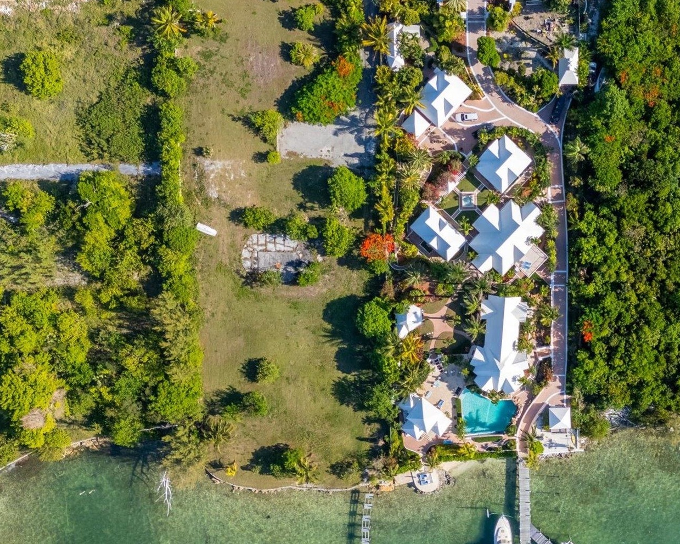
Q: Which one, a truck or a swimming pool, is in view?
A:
swimming pool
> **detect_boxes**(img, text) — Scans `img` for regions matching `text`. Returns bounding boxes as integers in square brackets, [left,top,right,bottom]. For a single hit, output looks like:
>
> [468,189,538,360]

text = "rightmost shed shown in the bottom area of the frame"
[549,406,571,429]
